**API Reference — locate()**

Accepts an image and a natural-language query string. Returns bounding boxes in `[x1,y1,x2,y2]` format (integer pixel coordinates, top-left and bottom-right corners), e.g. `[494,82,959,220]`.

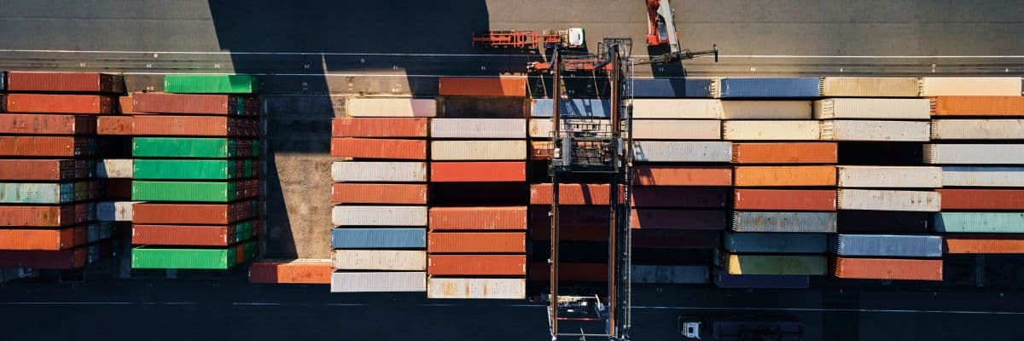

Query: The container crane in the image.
[525,38,636,341]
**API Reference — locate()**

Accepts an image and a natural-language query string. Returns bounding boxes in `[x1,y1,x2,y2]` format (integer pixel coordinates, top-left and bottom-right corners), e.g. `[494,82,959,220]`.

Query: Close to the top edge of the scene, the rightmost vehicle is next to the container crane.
[626,0,720,71]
